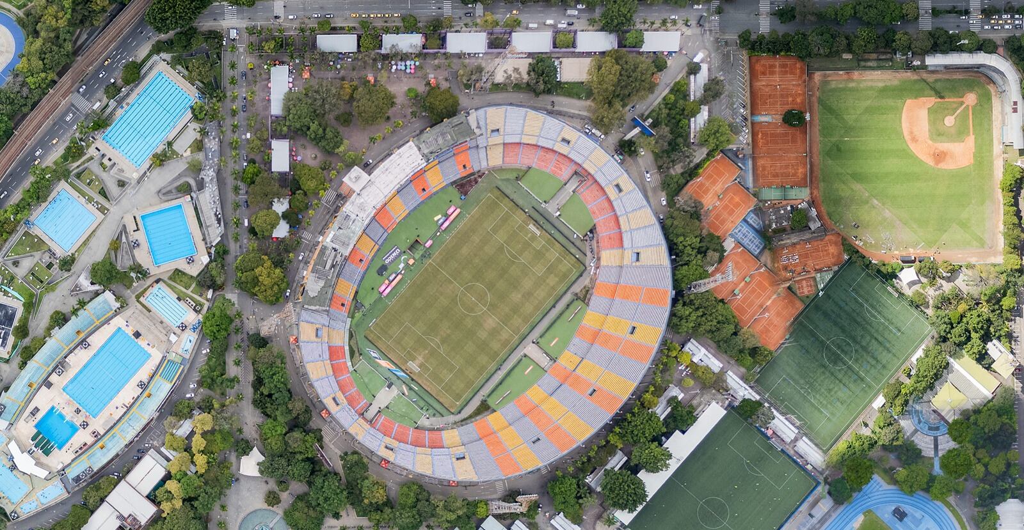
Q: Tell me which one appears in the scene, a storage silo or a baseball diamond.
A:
baseball diamond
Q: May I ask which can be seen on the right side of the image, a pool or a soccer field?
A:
soccer field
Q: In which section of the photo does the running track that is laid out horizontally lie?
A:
bottom right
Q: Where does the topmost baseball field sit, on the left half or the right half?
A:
right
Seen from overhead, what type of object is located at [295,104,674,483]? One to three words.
stadium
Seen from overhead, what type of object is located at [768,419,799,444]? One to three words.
building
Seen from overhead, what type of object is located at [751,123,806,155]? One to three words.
tennis court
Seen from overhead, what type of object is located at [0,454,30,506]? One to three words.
swimming pool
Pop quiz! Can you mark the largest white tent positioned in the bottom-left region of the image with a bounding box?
[239,446,262,476]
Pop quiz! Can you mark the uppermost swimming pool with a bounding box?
[94,60,200,174]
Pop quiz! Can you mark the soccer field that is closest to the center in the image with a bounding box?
[365,188,584,411]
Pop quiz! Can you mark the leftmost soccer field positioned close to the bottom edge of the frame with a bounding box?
[619,404,821,530]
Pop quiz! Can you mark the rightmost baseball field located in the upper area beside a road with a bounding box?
[810,70,1011,263]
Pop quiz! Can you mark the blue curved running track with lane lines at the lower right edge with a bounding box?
[816,475,956,530]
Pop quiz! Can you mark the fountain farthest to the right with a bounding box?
[238,508,289,530]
